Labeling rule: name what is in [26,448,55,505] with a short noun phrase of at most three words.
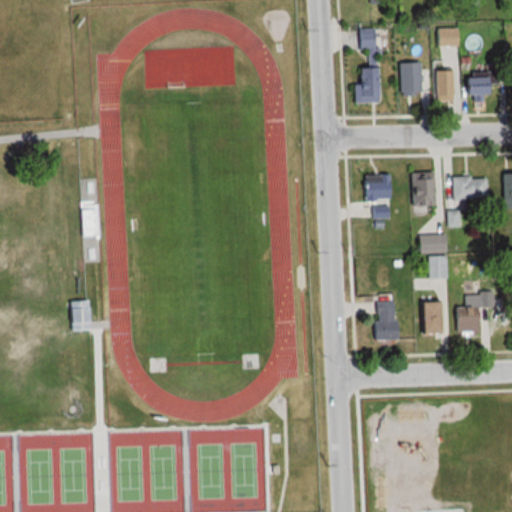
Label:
tennis court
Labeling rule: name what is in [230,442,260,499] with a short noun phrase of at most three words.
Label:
tennis court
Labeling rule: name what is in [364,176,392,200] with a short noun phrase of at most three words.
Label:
house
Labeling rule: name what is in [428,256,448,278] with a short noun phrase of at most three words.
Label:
building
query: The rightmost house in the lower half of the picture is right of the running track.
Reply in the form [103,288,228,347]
[456,290,496,338]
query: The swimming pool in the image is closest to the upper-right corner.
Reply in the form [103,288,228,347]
[464,34,483,54]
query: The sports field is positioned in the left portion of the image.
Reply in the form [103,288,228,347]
[120,30,274,402]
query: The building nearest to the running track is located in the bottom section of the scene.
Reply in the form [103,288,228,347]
[71,300,92,332]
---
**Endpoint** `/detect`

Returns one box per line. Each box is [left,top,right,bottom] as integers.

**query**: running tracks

[97,9,298,422]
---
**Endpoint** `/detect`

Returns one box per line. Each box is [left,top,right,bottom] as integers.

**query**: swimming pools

[410,44,422,56]
[464,34,483,54]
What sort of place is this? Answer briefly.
sports ground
